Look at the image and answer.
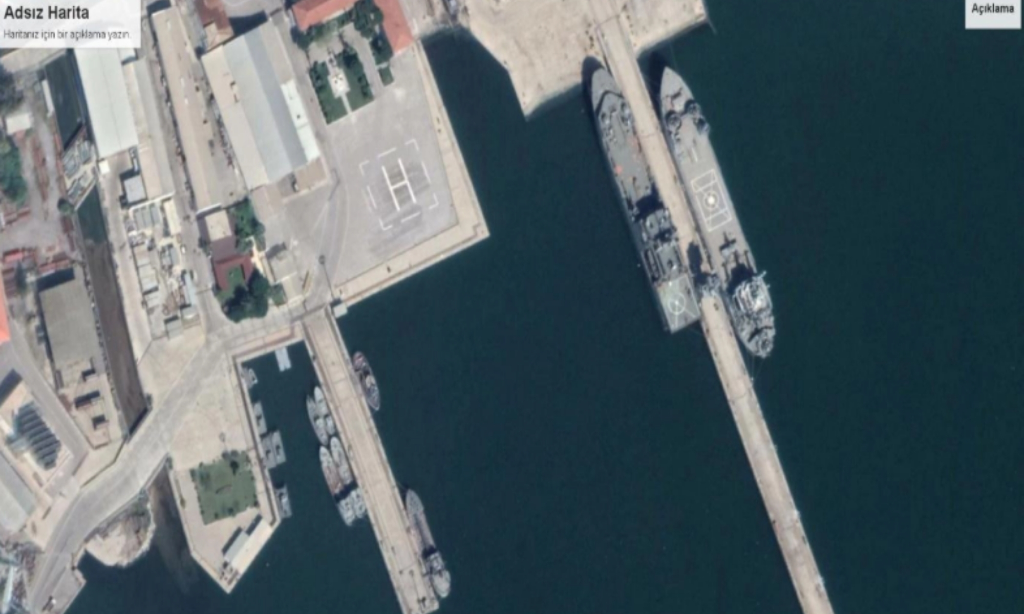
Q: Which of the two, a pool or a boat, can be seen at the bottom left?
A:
boat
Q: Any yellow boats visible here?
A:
No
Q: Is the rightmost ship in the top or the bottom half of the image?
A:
top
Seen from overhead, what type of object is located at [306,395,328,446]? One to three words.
boat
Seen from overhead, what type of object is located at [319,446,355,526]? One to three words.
vessel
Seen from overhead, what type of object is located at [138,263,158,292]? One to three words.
shed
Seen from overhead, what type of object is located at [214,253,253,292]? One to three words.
building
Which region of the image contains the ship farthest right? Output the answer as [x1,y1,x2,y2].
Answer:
[659,66,774,359]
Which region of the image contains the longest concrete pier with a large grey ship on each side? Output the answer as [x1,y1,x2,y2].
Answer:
[595,18,834,614]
